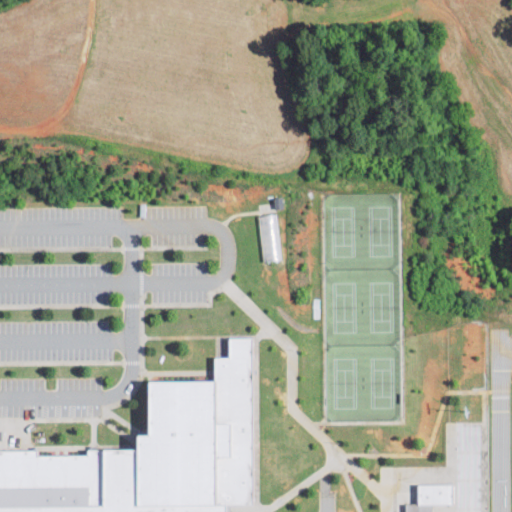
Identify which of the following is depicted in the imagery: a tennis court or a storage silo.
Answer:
tennis court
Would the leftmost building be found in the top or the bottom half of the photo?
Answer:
bottom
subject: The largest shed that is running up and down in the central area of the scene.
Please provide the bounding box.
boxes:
[260,214,282,264]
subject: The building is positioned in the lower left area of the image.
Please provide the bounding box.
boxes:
[0,338,253,512]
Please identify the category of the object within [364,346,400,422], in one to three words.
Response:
tennis court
